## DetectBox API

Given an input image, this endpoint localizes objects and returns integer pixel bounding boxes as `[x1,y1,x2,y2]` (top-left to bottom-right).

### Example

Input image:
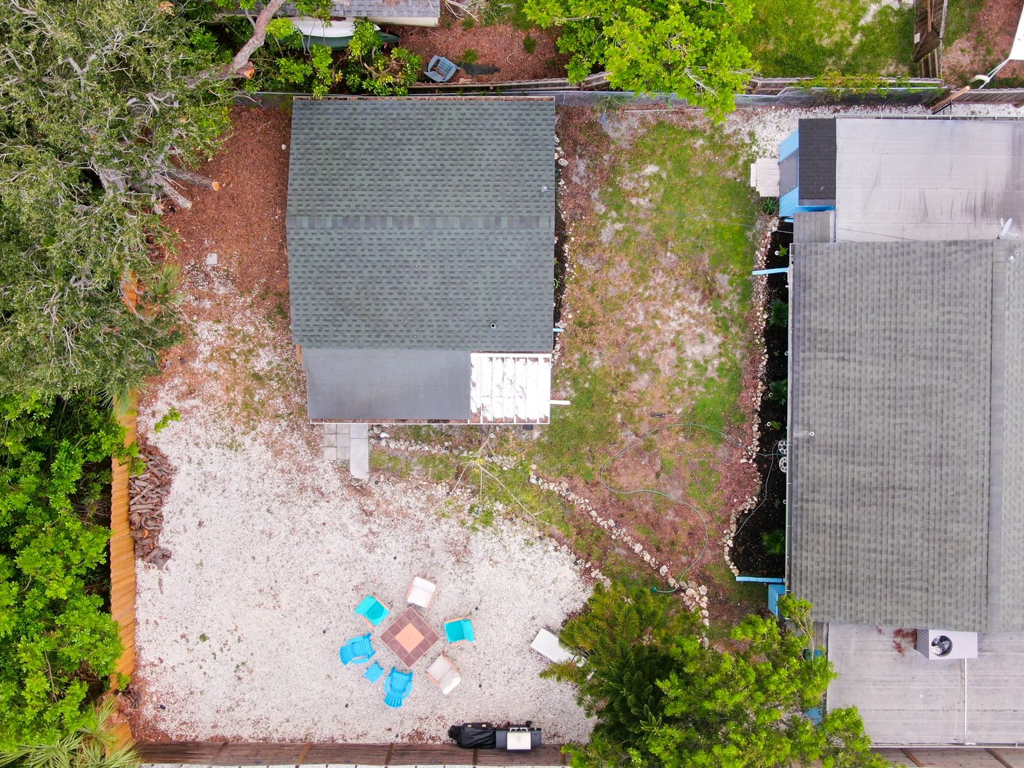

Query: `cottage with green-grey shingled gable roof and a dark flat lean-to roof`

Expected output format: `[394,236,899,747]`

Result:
[286,95,563,425]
